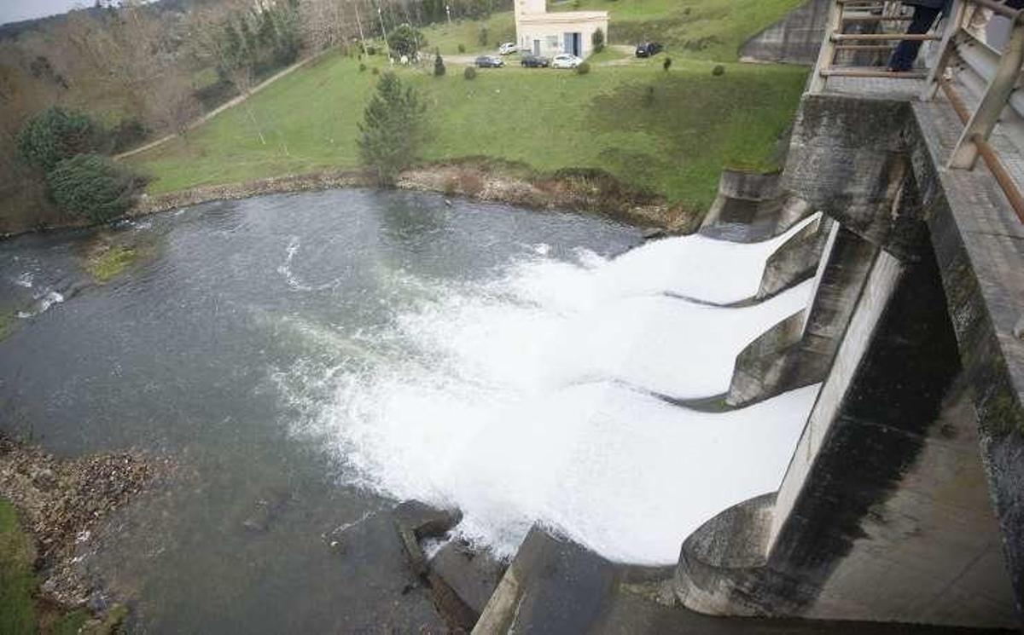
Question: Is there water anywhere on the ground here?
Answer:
Yes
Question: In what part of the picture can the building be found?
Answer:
top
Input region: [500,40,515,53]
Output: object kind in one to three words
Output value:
vehicle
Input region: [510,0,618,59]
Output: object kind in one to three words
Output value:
building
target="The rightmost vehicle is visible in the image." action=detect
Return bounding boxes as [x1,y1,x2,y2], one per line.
[634,39,666,57]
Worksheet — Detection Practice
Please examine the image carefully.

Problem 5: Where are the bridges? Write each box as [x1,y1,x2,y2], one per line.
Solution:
[782,3,1024,635]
